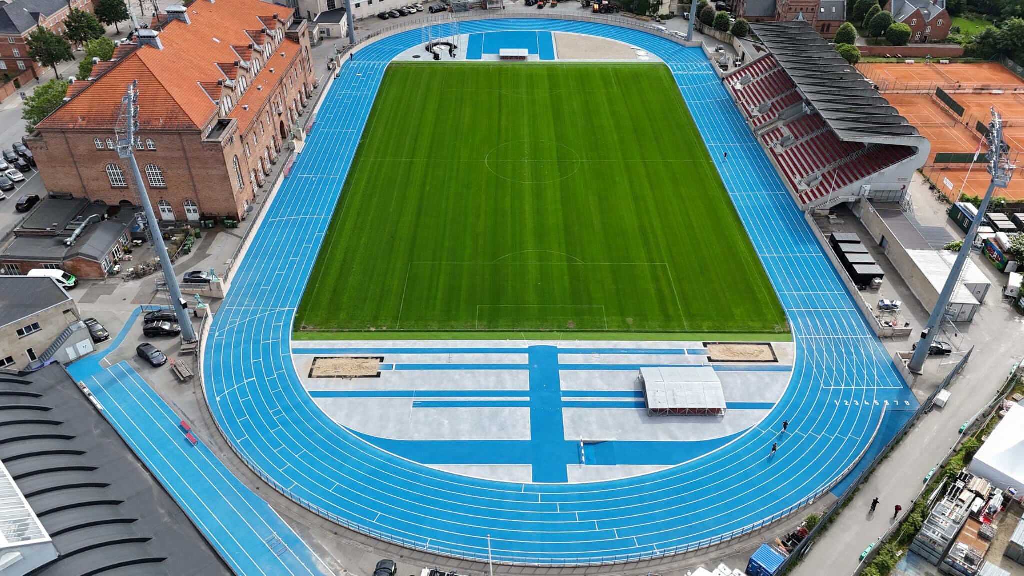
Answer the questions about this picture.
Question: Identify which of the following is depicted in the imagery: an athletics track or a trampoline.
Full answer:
The one in the frame is an athletics track.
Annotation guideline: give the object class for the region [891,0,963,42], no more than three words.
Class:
house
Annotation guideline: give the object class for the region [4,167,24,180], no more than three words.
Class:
vehicle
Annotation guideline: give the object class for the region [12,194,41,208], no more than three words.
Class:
car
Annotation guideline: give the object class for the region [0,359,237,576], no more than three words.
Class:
building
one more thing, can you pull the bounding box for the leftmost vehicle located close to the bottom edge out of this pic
[373,555,396,576]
